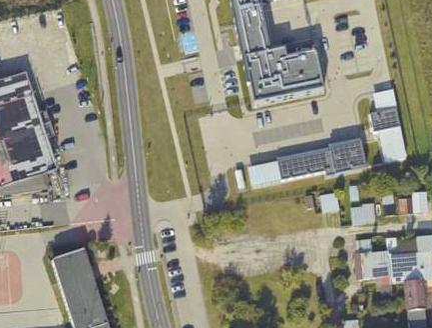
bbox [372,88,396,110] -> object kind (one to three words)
building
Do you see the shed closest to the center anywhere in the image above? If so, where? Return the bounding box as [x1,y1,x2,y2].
[249,161,281,189]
